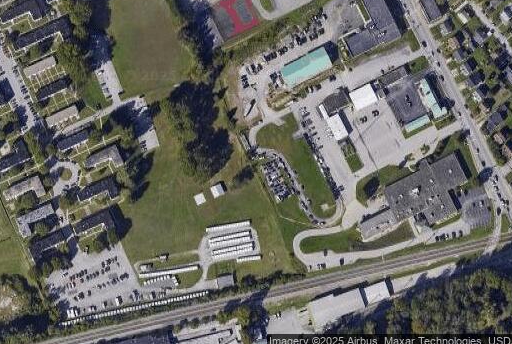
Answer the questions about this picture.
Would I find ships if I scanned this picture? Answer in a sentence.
No, this view has no ship in it.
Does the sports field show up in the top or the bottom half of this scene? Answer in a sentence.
The sports field sits in the top half of the picture.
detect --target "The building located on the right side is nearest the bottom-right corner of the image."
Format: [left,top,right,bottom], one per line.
[367,281,392,306]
